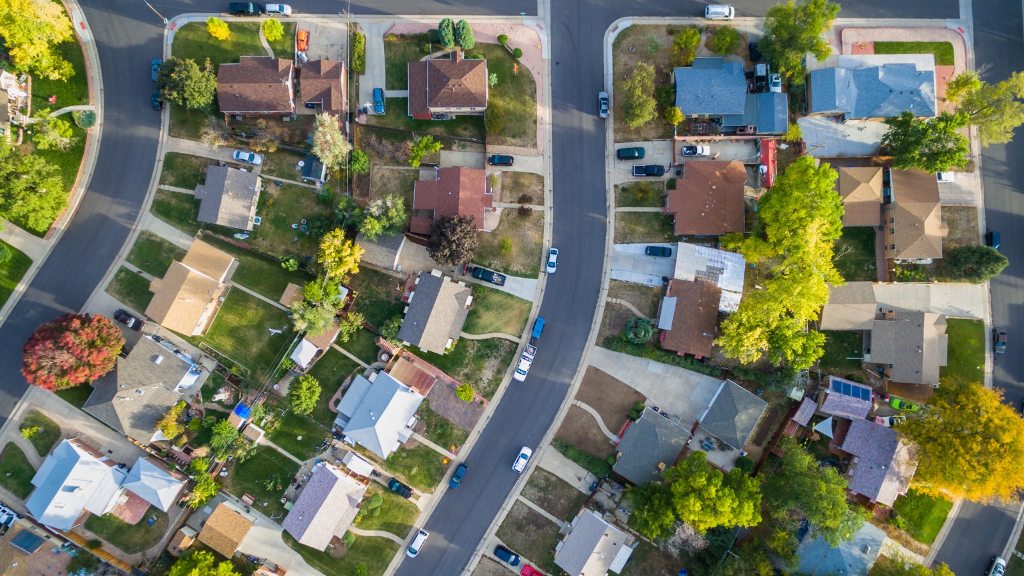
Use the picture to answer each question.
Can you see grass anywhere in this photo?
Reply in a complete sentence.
Yes, grass can be seen from above here.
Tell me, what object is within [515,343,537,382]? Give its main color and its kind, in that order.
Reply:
white truck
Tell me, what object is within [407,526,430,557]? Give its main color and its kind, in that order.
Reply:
white car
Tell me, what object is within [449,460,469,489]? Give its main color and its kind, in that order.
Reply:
blue car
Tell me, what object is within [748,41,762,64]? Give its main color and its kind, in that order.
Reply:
black car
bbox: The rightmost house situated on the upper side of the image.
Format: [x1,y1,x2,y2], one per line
[882,168,951,258]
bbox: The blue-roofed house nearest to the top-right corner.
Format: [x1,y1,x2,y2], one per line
[807,63,936,121]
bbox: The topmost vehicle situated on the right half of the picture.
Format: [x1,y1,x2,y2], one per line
[703,4,735,20]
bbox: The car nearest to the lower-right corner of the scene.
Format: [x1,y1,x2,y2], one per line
[984,553,1006,576]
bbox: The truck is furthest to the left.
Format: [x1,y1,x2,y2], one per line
[0,503,22,527]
